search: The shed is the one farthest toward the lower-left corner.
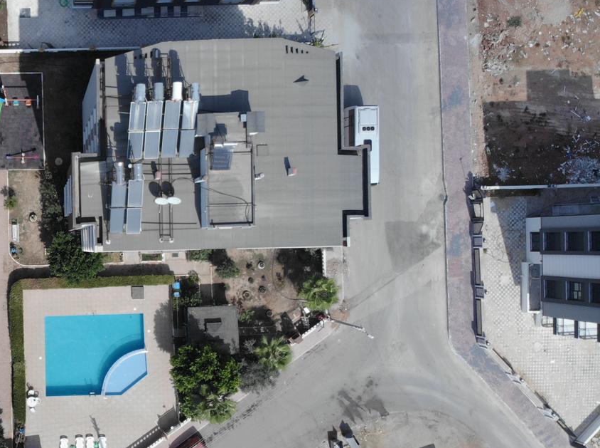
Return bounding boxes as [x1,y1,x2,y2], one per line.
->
[184,306,238,354]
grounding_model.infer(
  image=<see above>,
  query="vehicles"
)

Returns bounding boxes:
[346,109,379,187]
[177,435,209,448]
